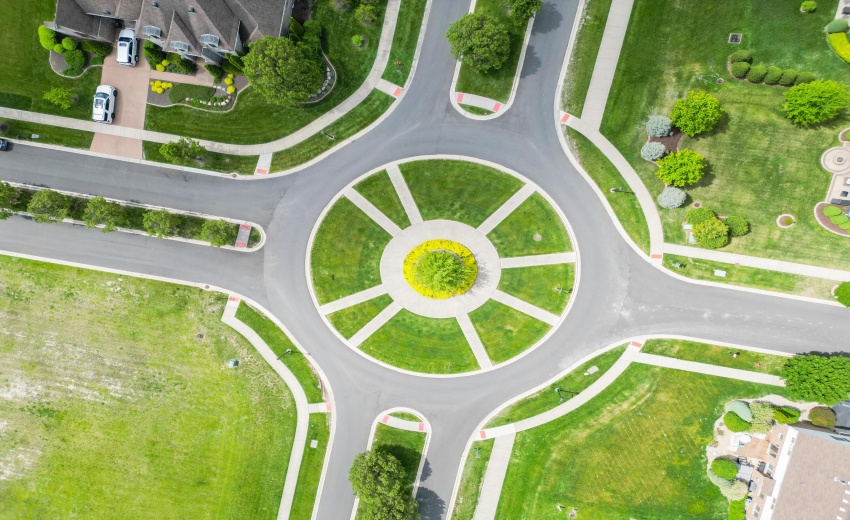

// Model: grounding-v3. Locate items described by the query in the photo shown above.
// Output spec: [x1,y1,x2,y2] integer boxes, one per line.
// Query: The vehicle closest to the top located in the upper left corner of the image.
[115,29,137,70]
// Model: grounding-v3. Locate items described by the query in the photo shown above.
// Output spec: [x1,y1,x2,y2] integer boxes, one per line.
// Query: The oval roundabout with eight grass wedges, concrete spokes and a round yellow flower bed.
[264,91,633,428]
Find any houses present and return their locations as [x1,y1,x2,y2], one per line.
[56,0,293,62]
[747,420,850,520]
